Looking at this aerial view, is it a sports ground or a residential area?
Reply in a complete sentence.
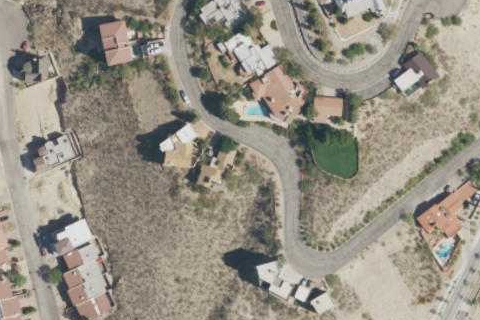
The picture captures a residential area.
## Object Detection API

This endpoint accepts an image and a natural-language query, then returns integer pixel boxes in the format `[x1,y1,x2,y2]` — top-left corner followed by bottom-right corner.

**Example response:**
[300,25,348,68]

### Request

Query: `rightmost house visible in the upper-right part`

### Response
[396,50,441,90]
